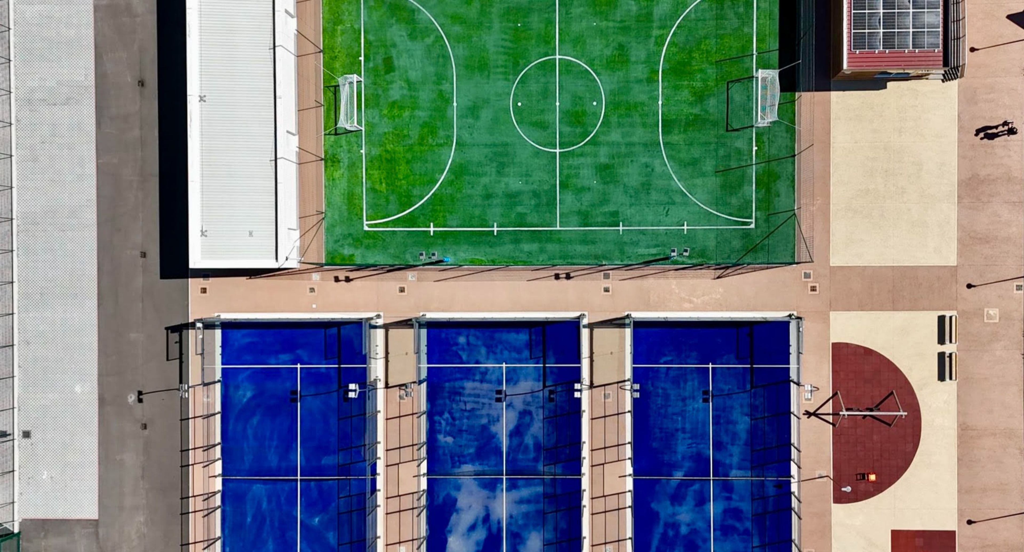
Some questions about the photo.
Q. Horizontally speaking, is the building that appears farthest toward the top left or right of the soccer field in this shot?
to the right of it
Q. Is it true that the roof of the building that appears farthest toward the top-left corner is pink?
No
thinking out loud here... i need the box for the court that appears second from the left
[415,314,588,552]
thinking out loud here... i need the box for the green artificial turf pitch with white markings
[321,0,797,266]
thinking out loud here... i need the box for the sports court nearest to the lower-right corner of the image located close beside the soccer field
[626,314,805,552]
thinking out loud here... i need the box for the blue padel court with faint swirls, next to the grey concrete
[196,314,383,552]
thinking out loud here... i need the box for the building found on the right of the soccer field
[833,0,962,84]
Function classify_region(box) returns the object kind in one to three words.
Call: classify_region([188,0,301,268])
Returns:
building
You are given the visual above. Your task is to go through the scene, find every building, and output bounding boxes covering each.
[833,0,962,84]
[188,0,301,268]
